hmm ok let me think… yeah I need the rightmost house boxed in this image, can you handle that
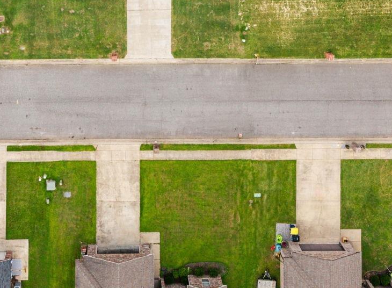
[281,242,362,288]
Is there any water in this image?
No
